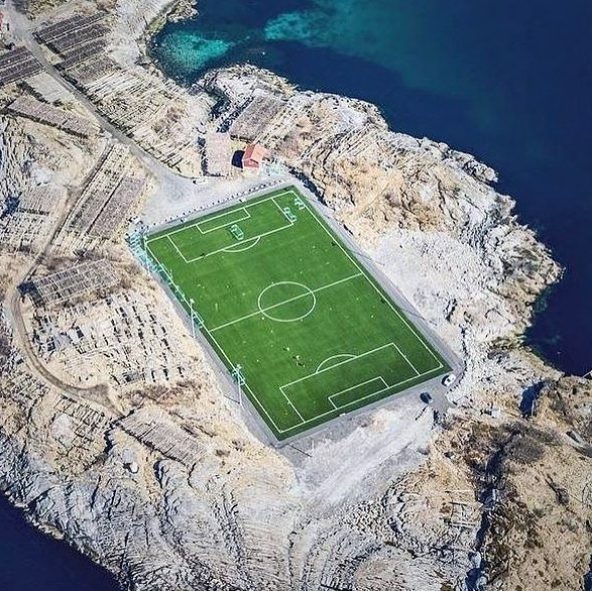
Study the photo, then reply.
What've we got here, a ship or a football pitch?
football pitch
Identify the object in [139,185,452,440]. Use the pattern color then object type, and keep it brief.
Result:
green soccer field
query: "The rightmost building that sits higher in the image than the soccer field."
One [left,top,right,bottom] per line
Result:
[242,141,268,172]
